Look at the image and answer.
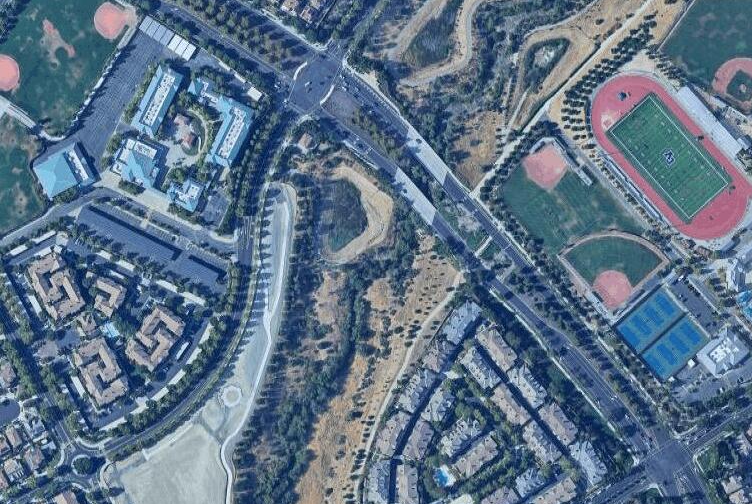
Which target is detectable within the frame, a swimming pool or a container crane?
swimming pool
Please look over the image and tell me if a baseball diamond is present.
Yes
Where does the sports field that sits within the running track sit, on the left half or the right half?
right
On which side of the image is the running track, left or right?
right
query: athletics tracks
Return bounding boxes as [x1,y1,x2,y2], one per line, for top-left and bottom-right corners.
[592,76,752,239]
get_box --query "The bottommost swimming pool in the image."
[433,465,455,487]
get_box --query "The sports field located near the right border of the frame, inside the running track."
[607,93,732,223]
